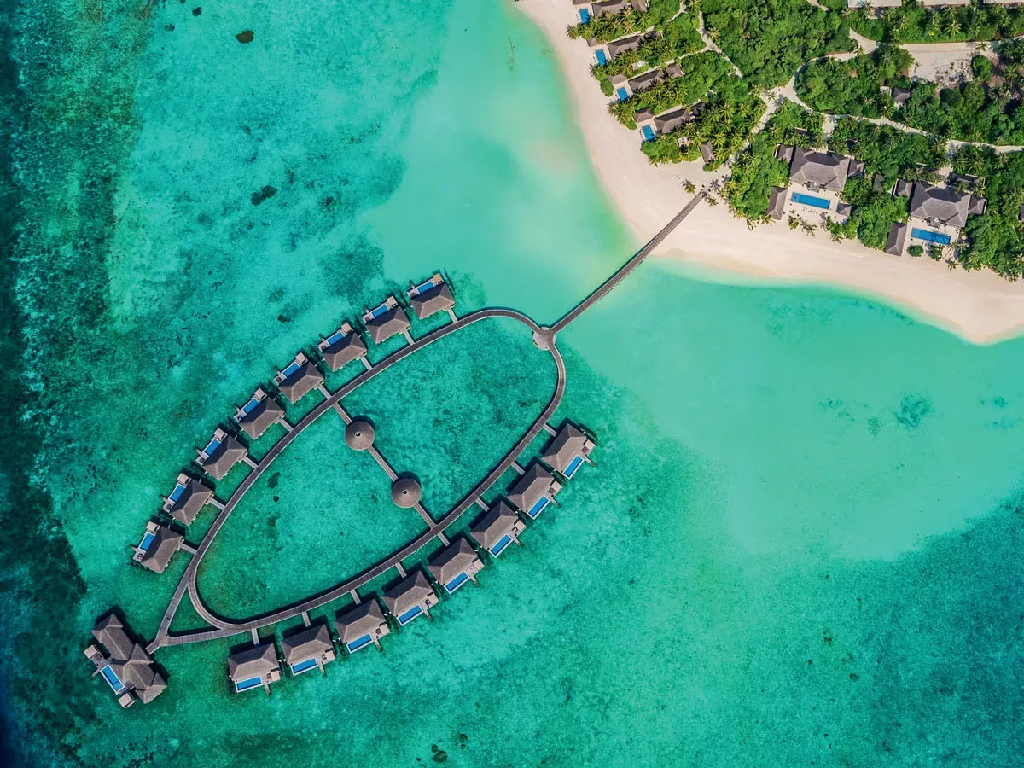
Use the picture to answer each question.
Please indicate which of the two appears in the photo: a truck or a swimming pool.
swimming pool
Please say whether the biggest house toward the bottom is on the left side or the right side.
left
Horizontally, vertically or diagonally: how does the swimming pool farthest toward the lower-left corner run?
diagonally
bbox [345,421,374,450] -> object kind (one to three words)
building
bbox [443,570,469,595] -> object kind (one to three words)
swimming pool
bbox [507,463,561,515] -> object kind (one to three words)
house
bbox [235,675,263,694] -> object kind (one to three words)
swimming pool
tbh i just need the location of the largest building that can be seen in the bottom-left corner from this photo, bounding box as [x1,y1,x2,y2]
[84,612,168,707]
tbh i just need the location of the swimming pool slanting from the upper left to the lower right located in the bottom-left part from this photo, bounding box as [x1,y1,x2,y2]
[101,664,126,693]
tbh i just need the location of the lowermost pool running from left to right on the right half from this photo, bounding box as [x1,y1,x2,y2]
[910,225,952,244]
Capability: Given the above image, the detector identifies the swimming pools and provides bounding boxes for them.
[101,664,126,693]
[560,454,582,479]
[417,282,436,296]
[235,675,263,694]
[290,657,318,677]
[283,362,303,379]
[171,482,189,502]
[395,603,422,627]
[525,495,548,520]
[346,632,373,654]
[328,332,347,347]
[790,191,831,210]
[371,305,391,320]
[595,49,607,66]
[616,86,630,101]
[579,8,590,24]
[243,398,263,416]
[443,570,469,595]
[642,124,655,141]
[910,225,952,244]
[205,438,223,457]
[140,531,158,552]
[487,533,511,558]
